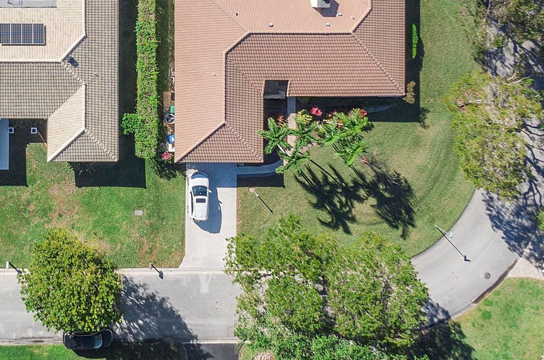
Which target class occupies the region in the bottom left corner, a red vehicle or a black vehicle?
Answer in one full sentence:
What appears in the bottom left corner is a black vehicle.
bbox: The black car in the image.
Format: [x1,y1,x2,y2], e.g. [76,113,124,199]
[62,330,114,359]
